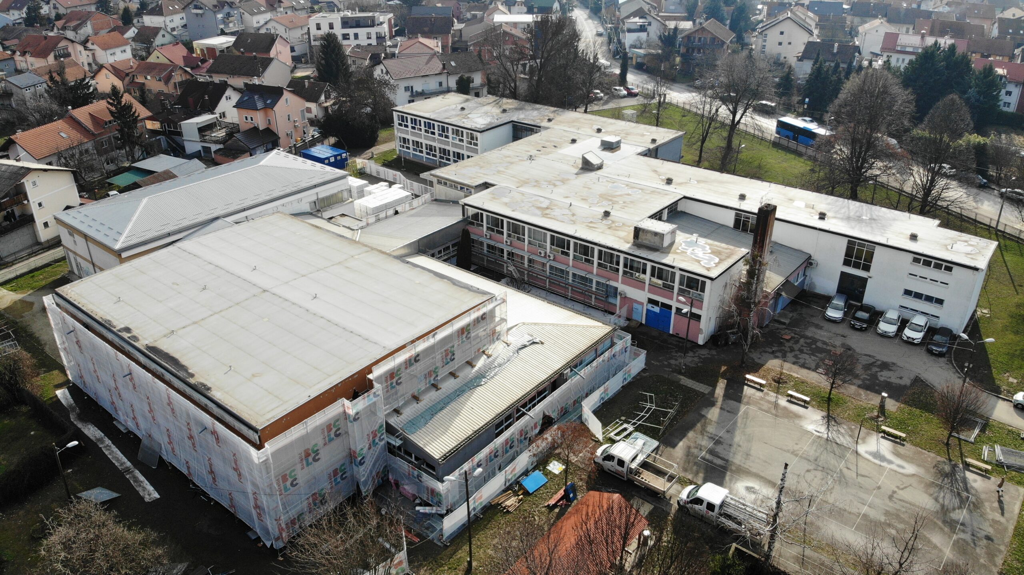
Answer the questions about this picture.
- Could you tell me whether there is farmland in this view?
No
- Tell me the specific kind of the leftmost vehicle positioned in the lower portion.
truck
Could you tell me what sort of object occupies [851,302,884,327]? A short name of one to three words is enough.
car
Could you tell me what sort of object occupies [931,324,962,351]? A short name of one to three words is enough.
car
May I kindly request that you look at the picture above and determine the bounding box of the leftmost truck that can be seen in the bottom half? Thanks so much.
[593,440,681,499]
